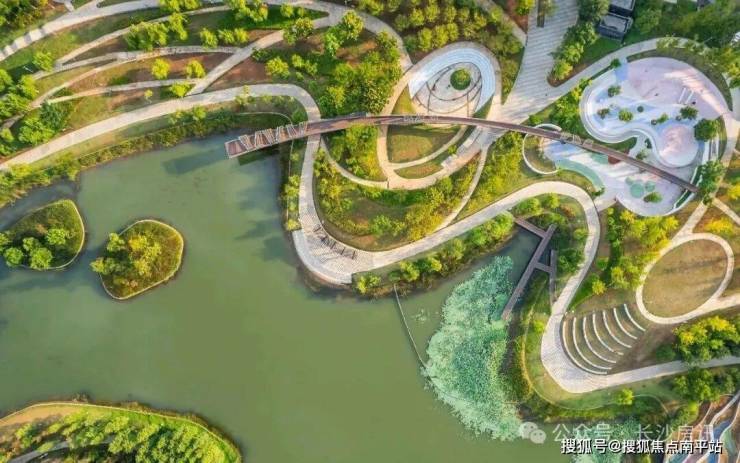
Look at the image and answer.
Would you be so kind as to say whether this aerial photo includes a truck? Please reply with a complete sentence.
No, there is no truck in the image.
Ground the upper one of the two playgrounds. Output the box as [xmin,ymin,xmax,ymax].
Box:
[546,56,726,218]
